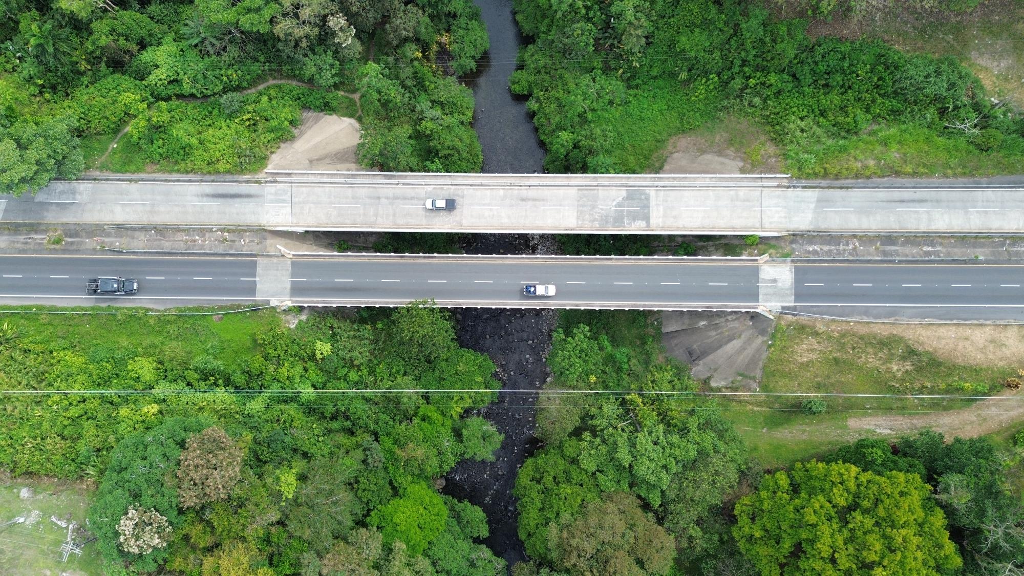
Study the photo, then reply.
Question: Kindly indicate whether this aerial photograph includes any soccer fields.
No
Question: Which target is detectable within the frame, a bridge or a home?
bridge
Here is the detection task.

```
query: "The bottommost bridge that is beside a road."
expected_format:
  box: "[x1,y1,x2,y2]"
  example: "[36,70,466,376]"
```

[256,245,794,320]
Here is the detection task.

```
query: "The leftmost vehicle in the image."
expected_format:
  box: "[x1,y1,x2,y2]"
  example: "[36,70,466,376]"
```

[86,277,140,295]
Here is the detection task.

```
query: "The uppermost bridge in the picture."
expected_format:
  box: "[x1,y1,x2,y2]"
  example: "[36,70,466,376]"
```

[263,170,794,237]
